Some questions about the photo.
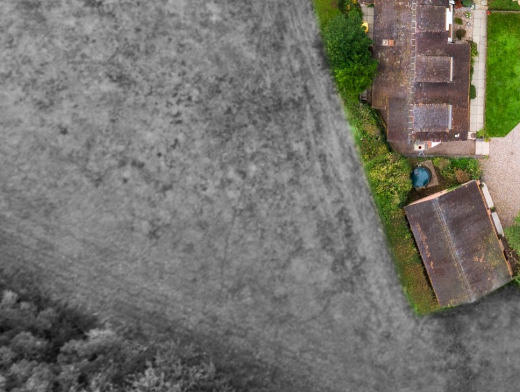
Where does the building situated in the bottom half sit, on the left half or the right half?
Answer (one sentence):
You can find the building situated in the bottom half on the right side of the picture.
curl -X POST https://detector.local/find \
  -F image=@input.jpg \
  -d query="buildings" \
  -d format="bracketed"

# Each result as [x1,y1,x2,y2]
[357,0,477,157]
[404,179,514,307]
